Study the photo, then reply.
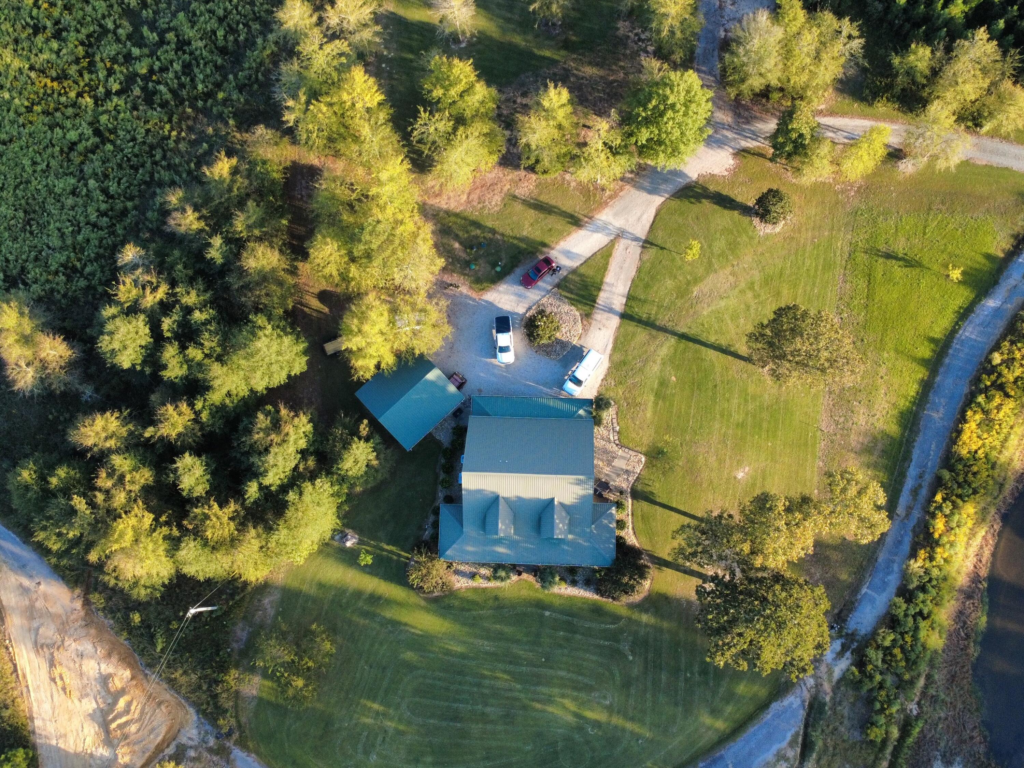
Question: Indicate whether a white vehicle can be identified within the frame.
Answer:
Yes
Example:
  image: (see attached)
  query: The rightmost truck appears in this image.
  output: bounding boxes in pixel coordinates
[562,346,605,397]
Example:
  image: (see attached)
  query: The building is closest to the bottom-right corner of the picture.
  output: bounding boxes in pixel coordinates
[438,394,617,567]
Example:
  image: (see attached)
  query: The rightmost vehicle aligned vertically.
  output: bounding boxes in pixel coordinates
[494,316,515,365]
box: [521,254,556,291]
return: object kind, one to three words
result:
car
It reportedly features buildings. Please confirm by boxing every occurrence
[438,394,617,567]
[356,344,467,450]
